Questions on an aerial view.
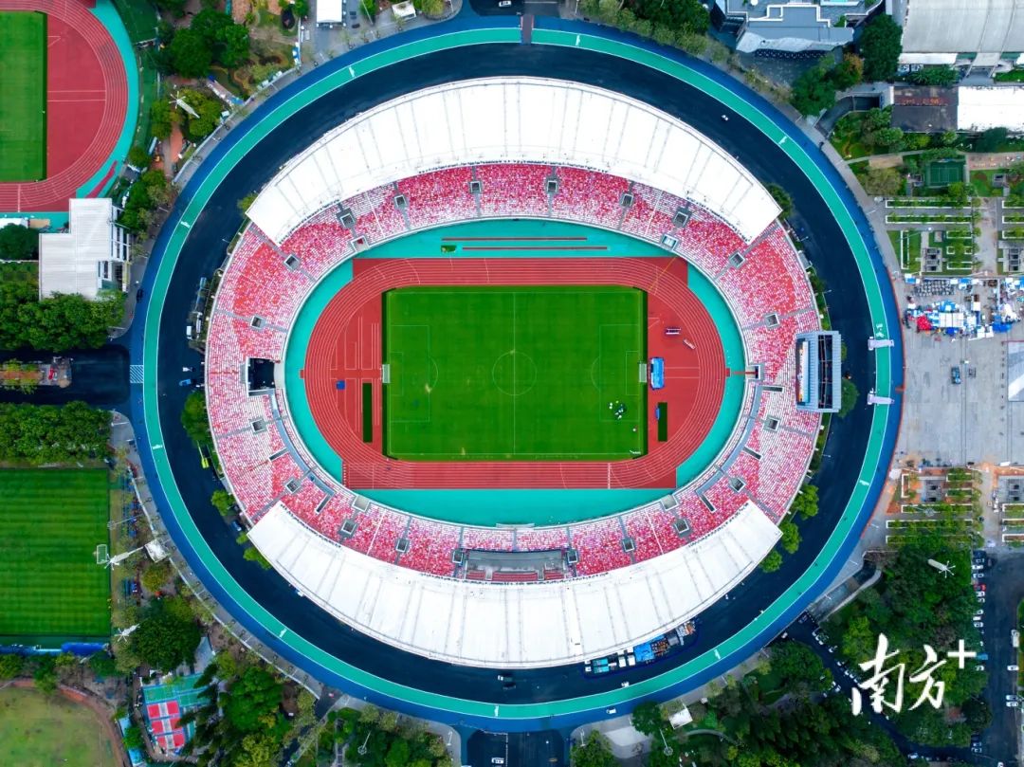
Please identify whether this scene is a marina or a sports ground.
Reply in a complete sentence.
What you see here is a sports ground.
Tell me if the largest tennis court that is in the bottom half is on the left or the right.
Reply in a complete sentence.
The largest tennis court that is in the bottom half sits on the left side.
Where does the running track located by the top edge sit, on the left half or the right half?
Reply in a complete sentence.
The running track located by the top edge appears in the left half of the scene.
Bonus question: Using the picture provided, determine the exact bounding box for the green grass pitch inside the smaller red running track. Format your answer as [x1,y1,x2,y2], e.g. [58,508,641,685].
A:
[0,11,47,181]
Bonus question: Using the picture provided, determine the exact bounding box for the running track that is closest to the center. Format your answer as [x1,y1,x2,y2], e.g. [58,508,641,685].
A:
[285,222,754,525]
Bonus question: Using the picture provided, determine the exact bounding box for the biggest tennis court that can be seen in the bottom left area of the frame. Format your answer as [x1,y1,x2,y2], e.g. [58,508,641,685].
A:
[143,673,214,745]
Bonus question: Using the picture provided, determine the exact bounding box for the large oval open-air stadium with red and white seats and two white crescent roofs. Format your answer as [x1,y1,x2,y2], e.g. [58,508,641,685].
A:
[205,78,820,669]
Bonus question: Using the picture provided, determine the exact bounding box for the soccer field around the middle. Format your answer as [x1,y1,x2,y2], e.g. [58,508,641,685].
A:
[382,285,648,461]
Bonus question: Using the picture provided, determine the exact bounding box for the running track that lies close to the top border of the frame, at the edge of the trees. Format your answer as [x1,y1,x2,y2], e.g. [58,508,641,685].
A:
[0,0,138,230]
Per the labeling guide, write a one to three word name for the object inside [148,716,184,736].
sports court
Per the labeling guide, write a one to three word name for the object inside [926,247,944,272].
building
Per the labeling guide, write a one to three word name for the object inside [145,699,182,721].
sports court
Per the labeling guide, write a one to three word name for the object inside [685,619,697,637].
vehicle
